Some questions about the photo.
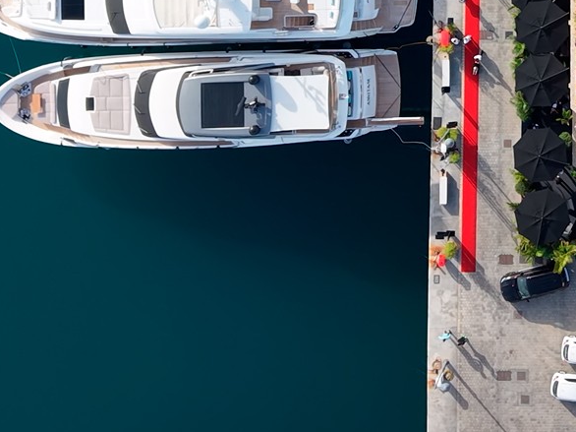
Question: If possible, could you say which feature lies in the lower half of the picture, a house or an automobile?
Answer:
automobile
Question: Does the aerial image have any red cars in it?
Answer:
No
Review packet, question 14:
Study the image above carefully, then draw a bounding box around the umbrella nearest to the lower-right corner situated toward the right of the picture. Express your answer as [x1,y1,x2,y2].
[515,192,569,245]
